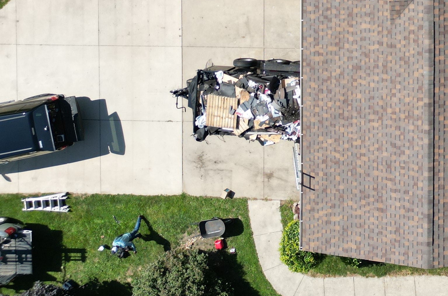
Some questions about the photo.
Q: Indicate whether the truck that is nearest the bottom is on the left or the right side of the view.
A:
left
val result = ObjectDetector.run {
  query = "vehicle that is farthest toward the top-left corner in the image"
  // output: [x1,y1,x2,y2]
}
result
[0,93,84,163]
